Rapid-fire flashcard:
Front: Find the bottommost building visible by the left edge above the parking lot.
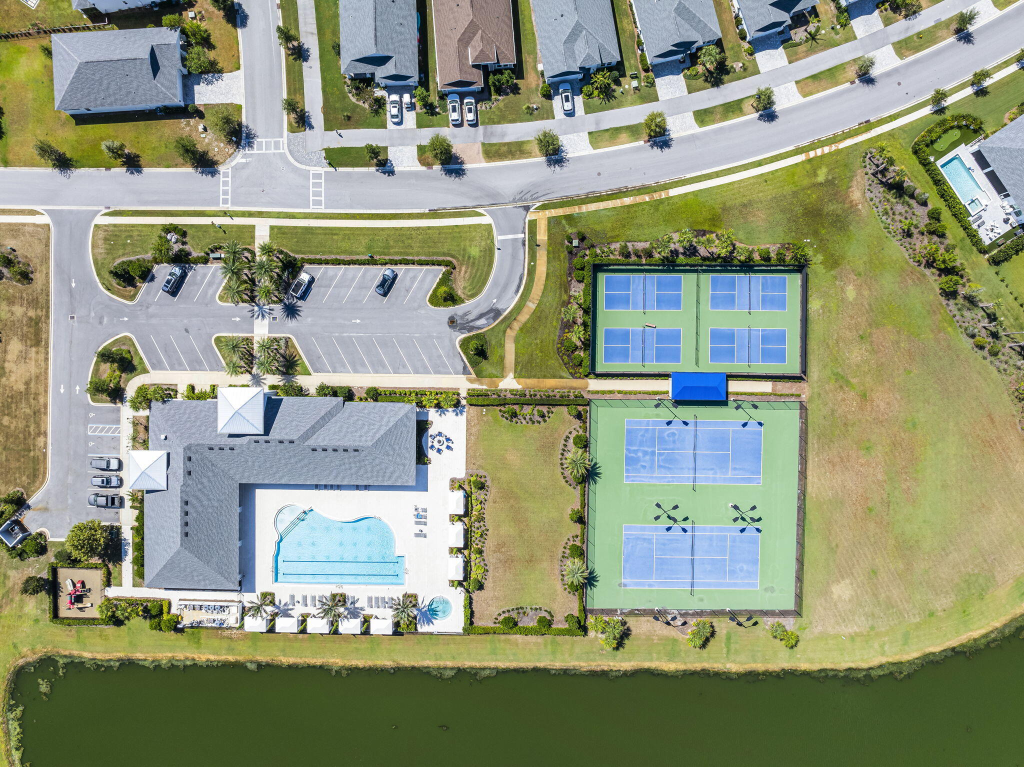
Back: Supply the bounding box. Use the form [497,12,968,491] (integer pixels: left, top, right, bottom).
[51,27,194,114]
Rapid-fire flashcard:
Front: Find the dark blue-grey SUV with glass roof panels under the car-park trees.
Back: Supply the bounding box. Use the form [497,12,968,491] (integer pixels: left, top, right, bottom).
[161,265,186,295]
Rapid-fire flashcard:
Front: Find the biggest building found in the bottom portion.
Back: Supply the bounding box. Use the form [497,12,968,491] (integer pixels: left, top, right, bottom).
[129,387,416,590]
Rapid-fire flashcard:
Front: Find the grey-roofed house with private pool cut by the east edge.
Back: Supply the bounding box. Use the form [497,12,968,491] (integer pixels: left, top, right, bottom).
[960,116,1024,230]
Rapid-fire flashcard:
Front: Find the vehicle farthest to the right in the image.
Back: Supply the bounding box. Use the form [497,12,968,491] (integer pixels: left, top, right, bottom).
[559,84,573,114]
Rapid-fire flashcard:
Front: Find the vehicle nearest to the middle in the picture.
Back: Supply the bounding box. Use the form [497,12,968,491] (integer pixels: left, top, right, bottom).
[376,268,397,297]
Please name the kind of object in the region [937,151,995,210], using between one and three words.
swimming pool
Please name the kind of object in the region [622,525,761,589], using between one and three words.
tennis court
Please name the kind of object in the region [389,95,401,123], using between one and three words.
vehicle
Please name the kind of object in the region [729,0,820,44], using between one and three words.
house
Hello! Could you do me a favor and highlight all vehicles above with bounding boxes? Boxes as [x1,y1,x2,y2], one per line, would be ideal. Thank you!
[161,265,186,295]
[463,97,476,125]
[402,93,411,111]
[389,95,401,123]
[448,95,461,125]
[559,84,573,114]
[90,457,123,471]
[89,494,122,508]
[91,475,122,488]
[290,271,314,300]
[376,268,397,297]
